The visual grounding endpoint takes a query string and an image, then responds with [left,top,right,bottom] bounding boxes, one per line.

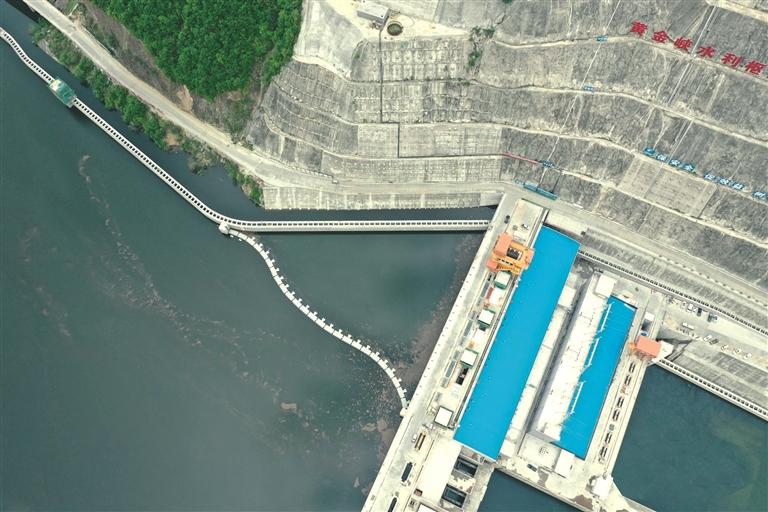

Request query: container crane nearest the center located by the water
[485,232,538,277]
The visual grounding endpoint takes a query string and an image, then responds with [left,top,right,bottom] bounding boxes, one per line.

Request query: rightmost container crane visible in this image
[628,337,662,366]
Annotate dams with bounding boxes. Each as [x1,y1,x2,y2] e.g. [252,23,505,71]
[362,193,547,512]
